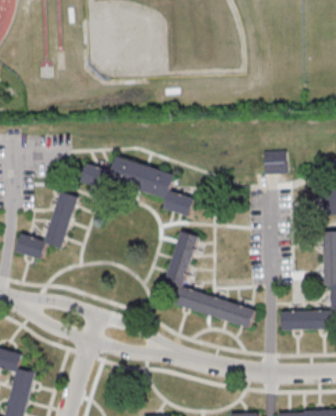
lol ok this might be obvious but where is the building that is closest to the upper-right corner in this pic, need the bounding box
[263,150,287,173]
